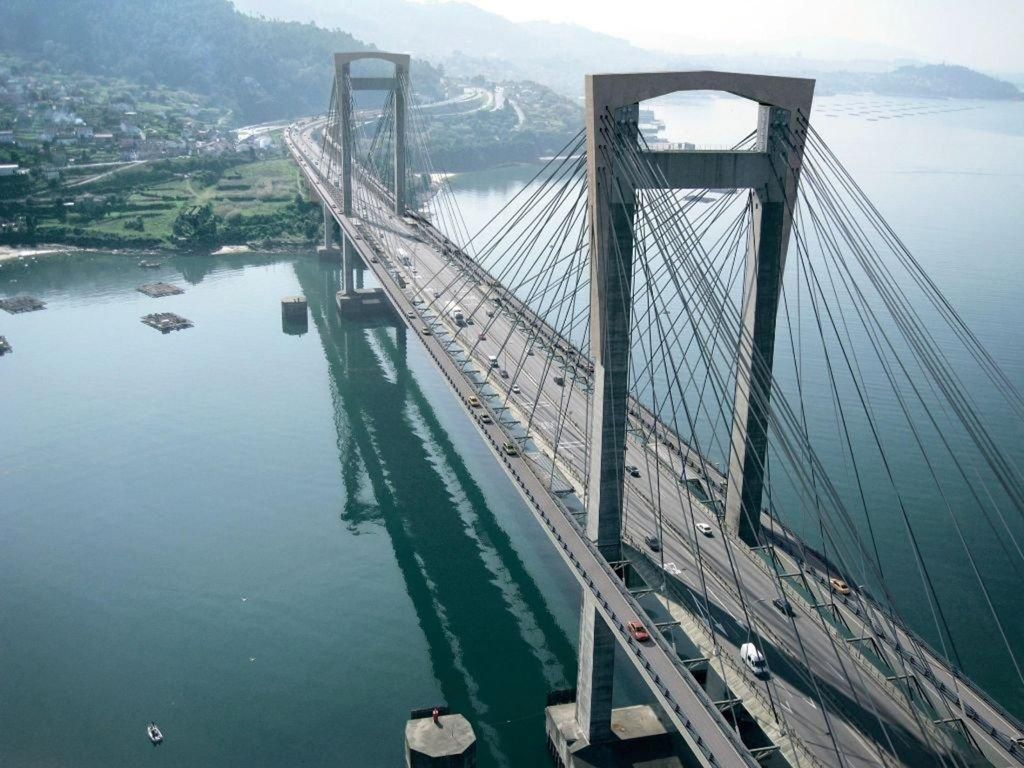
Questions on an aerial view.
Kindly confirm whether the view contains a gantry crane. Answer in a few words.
No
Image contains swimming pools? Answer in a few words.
No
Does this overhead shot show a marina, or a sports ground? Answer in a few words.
marina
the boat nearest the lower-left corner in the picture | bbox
[146,720,161,741]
